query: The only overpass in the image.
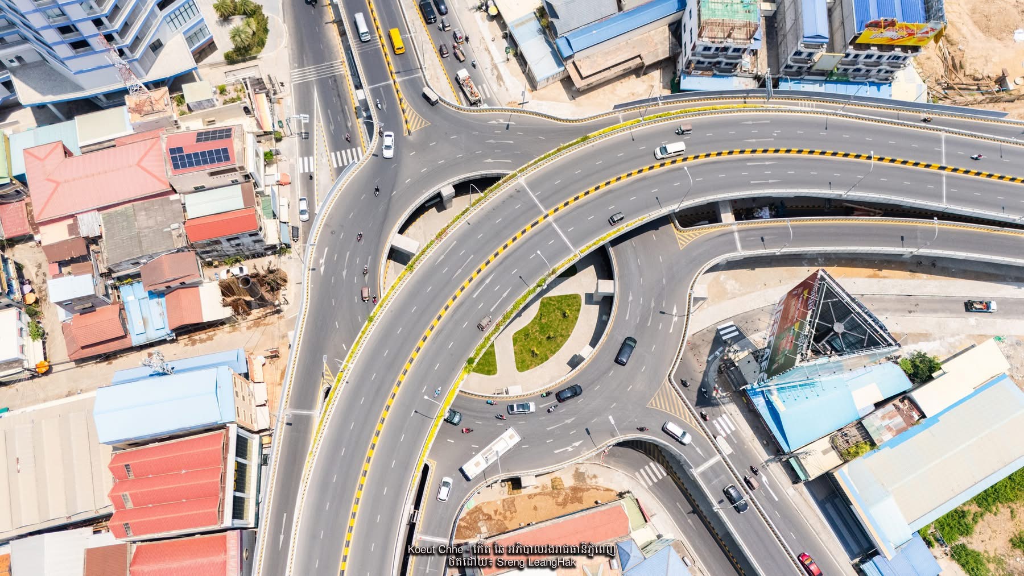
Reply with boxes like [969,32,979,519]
[284,106,1024,576]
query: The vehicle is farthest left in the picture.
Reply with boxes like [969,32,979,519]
[220,265,248,279]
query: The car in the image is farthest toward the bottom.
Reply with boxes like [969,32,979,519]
[799,552,825,576]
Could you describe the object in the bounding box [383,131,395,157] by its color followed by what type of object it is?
white vehicle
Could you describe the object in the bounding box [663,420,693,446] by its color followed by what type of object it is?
white car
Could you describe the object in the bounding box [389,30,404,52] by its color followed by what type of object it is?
yellow vehicle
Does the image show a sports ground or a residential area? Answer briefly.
residential area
